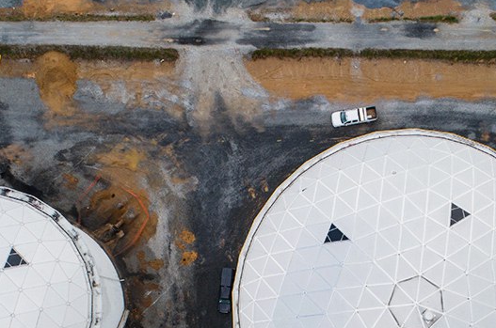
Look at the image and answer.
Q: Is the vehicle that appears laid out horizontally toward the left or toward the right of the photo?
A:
right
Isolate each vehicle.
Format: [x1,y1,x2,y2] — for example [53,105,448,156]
[330,106,378,127]
[215,266,235,315]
